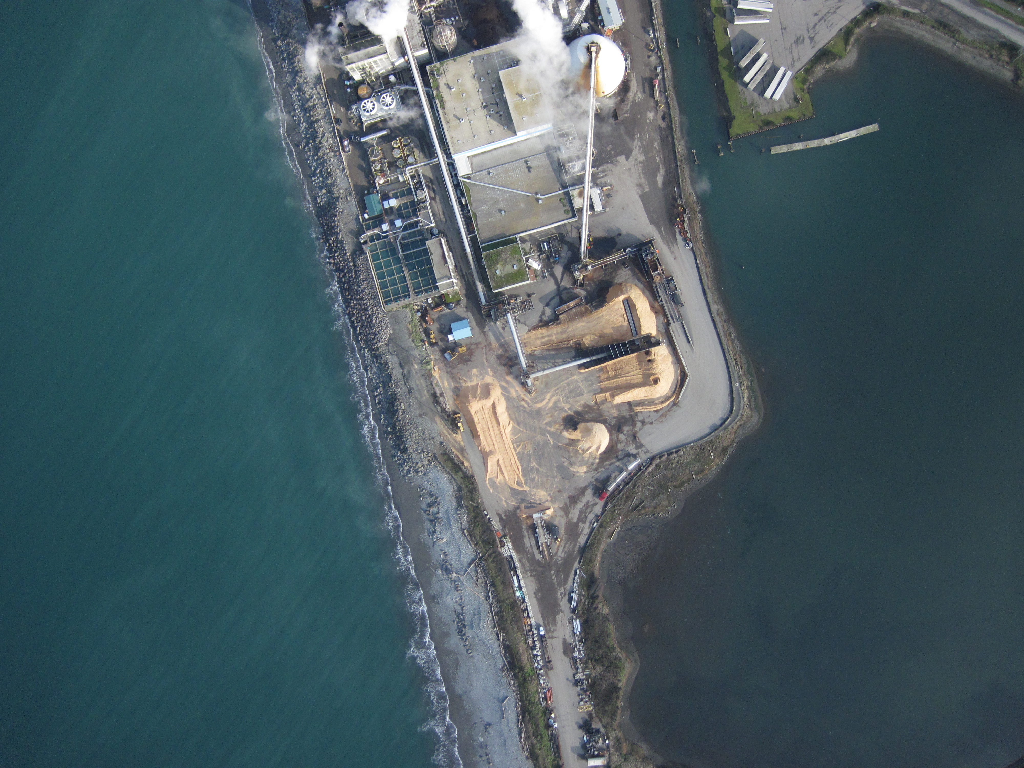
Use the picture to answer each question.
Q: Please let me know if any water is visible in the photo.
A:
Yes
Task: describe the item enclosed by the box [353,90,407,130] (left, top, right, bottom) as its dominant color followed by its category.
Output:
white cooling tower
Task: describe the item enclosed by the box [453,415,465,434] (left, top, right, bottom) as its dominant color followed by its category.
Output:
yellow vehicle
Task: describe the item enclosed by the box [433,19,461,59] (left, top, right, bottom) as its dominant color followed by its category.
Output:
gray storage tank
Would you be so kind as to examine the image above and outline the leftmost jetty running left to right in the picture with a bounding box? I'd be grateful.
[770,139,826,154]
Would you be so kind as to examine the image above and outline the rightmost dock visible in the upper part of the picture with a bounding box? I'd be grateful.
[825,123,878,145]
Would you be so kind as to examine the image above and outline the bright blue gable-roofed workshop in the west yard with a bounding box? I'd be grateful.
[448,319,473,343]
